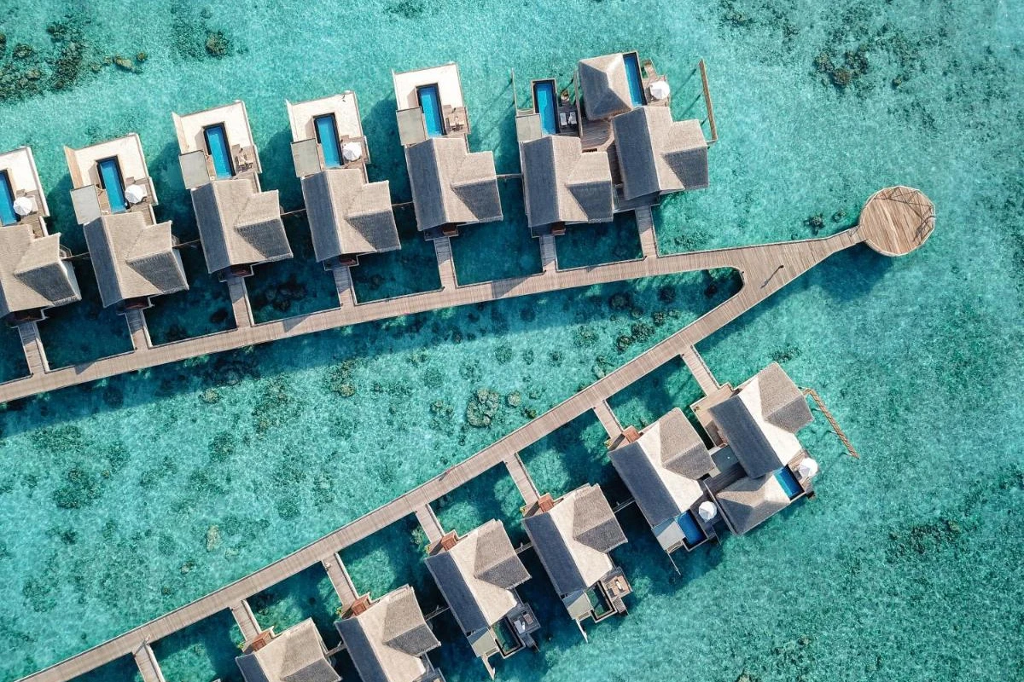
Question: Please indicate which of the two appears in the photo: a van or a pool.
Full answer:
The one in the frame is a pool.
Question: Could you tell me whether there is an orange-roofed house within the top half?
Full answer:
No, no orange-roofed house can be made out within the top half.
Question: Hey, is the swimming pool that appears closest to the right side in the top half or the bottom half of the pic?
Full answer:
It is in the bottom half that the swimming pool that appears closest to the right side appears.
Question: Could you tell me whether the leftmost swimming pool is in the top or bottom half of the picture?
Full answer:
The leftmost swimming pool is in the top half of the image.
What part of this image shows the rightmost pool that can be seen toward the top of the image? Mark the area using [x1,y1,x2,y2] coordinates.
[627,51,648,107]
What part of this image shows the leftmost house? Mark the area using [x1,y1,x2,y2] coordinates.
[0,146,91,329]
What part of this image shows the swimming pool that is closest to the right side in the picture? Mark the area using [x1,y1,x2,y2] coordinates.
[775,465,806,503]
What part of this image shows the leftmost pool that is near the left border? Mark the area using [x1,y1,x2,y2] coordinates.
[0,170,22,226]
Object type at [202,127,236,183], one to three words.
swimming pool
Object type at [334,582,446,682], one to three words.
house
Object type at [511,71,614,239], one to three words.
house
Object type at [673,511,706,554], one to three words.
swimming pool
